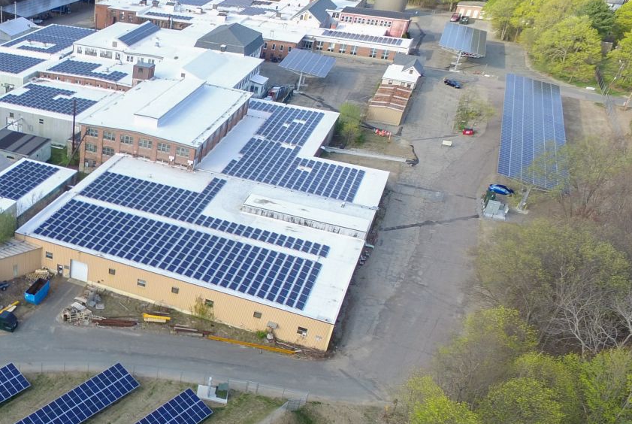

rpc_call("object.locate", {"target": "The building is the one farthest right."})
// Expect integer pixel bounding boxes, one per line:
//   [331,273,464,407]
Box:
[456,4,500,20]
